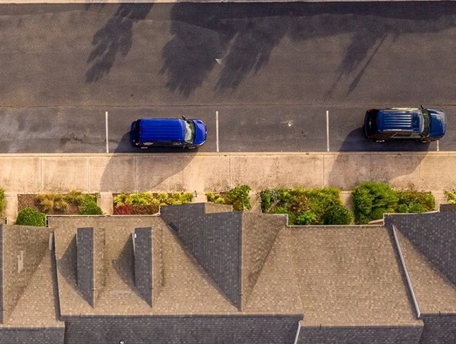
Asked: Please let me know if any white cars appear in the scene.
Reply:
No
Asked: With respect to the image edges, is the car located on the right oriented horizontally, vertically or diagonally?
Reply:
horizontally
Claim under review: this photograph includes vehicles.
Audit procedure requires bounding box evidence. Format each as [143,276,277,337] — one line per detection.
[362,105,446,144]
[130,114,207,151]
